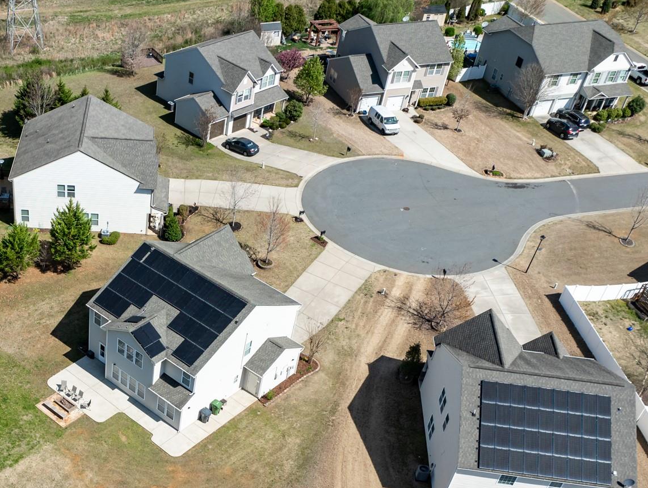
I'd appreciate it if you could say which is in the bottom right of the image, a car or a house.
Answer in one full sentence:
The one visible in the bottom right of the image is a house.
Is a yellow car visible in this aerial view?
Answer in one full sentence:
No, the scene contains no yellow car.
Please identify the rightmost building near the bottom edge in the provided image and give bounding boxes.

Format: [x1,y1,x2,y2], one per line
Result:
[413,308,639,488]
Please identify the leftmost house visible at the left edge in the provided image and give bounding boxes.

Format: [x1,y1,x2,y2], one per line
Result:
[7,94,171,235]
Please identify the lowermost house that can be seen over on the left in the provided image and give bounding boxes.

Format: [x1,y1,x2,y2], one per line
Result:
[85,226,304,434]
